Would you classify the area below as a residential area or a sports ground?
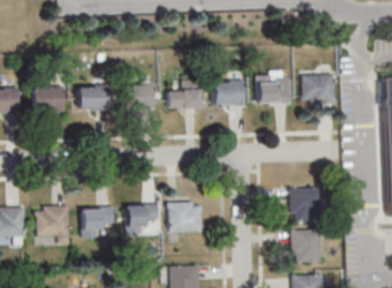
residential area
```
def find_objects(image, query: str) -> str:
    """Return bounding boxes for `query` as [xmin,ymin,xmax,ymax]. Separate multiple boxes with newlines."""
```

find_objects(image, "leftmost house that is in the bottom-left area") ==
[0,206,26,246]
